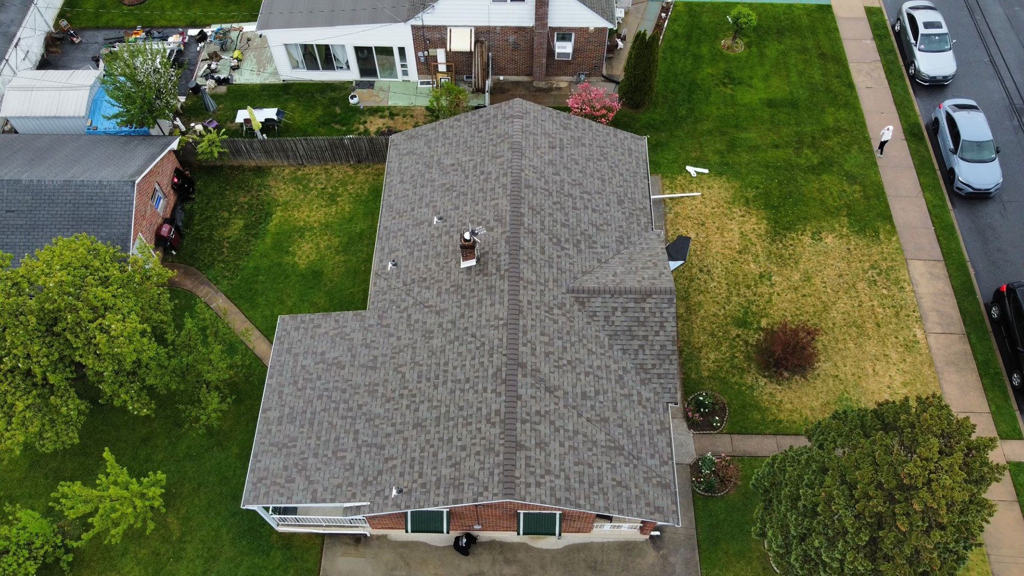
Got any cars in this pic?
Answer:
Yes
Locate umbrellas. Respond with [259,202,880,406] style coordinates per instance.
[201,85,221,114]
[247,105,265,139]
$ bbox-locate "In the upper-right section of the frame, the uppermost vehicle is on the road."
[895,2,959,86]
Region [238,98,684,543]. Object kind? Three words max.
house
